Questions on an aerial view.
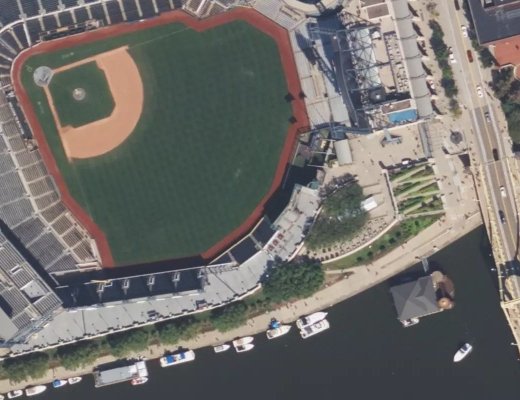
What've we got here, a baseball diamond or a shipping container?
baseball diamond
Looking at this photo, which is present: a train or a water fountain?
water fountain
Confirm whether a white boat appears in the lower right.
Yes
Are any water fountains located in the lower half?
No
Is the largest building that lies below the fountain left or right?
right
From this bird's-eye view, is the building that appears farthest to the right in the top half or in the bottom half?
top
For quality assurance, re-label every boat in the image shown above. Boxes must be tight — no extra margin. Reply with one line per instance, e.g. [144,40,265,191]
[234,337,254,346]
[266,326,291,340]
[130,377,148,385]
[159,349,196,367]
[236,344,255,353]
[52,379,67,387]
[296,314,327,328]
[6,390,23,399]
[454,342,473,361]
[68,377,82,385]
[212,344,231,353]
[25,386,47,396]
[401,318,416,327]
[300,322,329,338]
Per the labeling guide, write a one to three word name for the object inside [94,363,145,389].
ship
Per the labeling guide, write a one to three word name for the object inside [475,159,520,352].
bridge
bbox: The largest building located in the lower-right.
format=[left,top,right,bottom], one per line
[390,271,454,319]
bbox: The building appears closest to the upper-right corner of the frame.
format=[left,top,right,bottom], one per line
[467,0,520,81]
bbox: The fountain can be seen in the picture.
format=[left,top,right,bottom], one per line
[442,123,471,152]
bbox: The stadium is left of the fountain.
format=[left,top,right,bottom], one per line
[0,0,372,360]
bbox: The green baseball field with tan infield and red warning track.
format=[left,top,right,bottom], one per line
[11,6,310,280]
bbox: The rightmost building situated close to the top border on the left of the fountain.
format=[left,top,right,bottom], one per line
[338,0,438,134]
